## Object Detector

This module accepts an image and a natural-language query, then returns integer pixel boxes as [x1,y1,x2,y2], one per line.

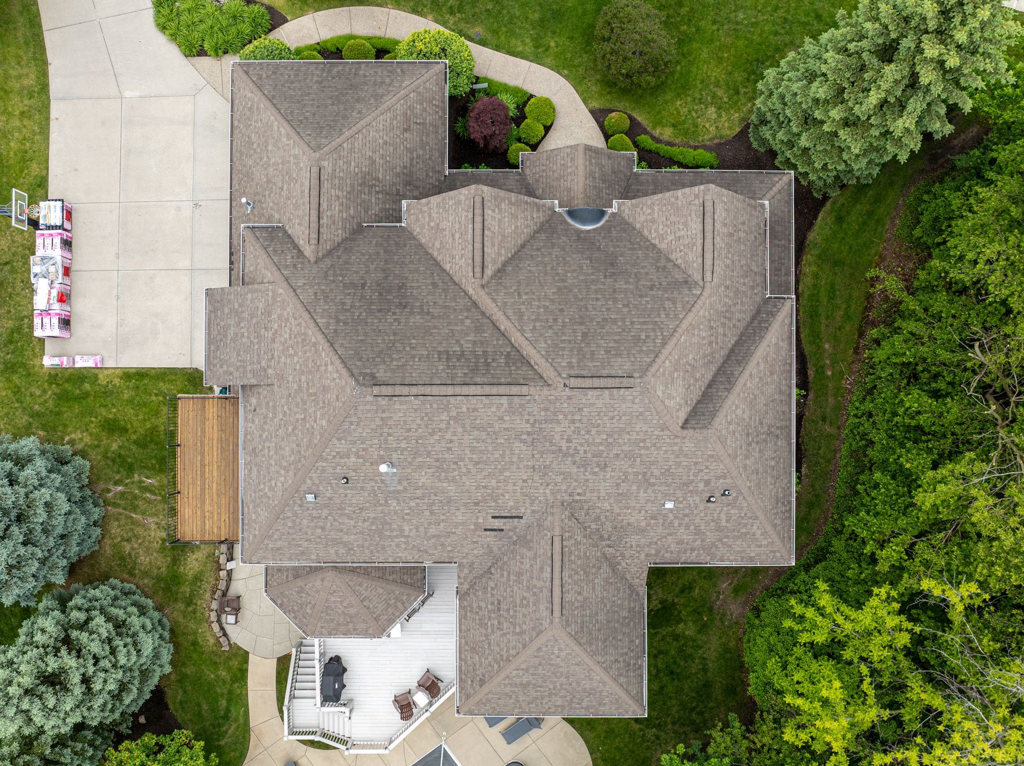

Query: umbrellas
[420,733,465,766]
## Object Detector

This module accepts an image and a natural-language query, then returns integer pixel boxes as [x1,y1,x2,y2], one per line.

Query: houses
[206,61,794,715]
